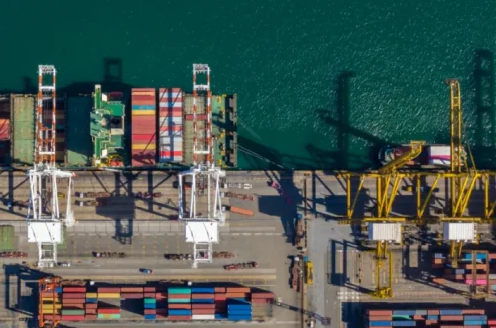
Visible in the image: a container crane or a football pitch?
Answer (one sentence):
I can see a container crane in this picture.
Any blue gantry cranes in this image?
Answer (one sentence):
No, there isn't any blue gantry crane down there.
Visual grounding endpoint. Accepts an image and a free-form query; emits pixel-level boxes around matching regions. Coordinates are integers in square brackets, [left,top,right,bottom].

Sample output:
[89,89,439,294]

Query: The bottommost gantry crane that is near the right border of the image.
[453,250,490,301]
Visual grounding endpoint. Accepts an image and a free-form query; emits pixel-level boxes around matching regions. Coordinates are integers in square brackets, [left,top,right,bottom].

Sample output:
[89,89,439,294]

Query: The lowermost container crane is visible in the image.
[36,277,64,327]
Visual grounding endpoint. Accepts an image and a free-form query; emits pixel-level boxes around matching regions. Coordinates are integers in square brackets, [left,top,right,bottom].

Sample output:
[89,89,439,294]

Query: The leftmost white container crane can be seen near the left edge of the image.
[23,64,85,269]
